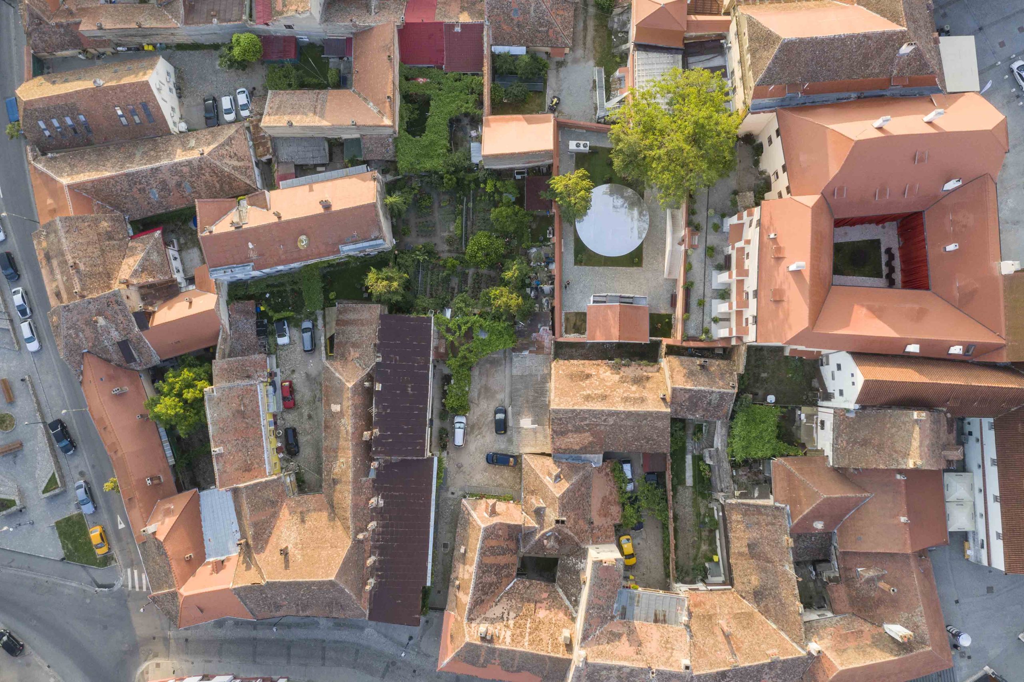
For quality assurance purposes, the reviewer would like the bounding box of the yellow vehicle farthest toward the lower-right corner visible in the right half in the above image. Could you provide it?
[620,535,637,568]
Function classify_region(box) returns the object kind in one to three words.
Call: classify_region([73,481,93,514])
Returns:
car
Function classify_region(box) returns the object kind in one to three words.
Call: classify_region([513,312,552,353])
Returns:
shed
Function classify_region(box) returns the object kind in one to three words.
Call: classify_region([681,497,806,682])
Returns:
house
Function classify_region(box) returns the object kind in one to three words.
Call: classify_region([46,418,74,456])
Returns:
truck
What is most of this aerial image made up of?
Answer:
buildings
